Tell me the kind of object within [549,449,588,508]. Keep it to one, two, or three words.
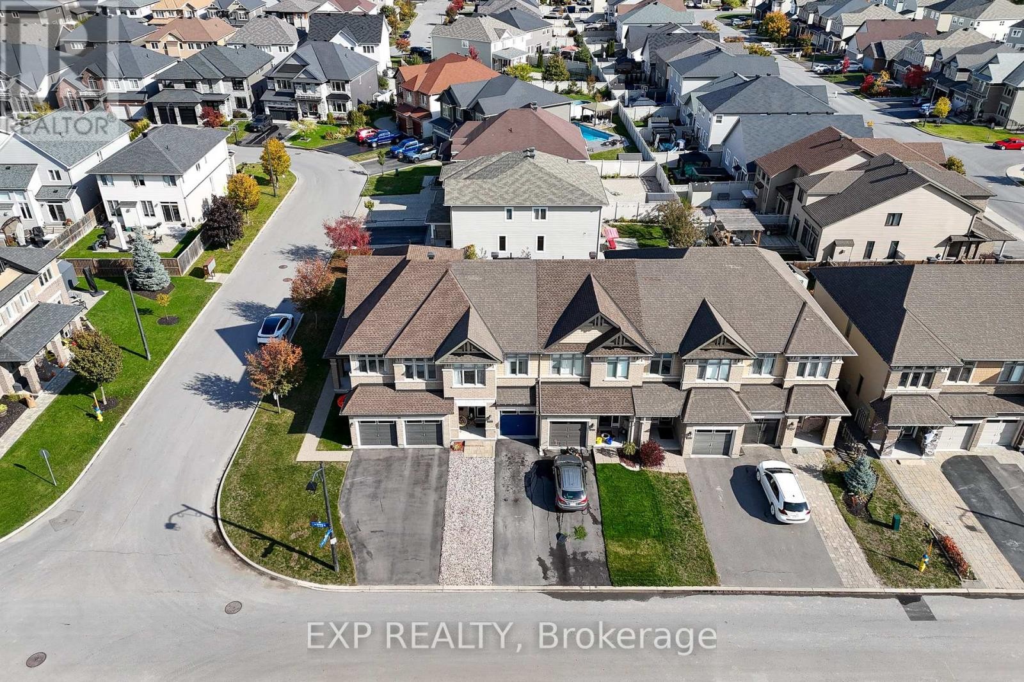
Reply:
car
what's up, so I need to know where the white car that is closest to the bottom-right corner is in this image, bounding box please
[752,458,807,518]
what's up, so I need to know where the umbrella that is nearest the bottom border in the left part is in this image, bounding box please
[86,264,104,295]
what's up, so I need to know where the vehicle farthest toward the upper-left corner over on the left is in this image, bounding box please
[251,110,277,128]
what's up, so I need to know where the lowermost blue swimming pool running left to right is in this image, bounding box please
[577,121,615,142]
